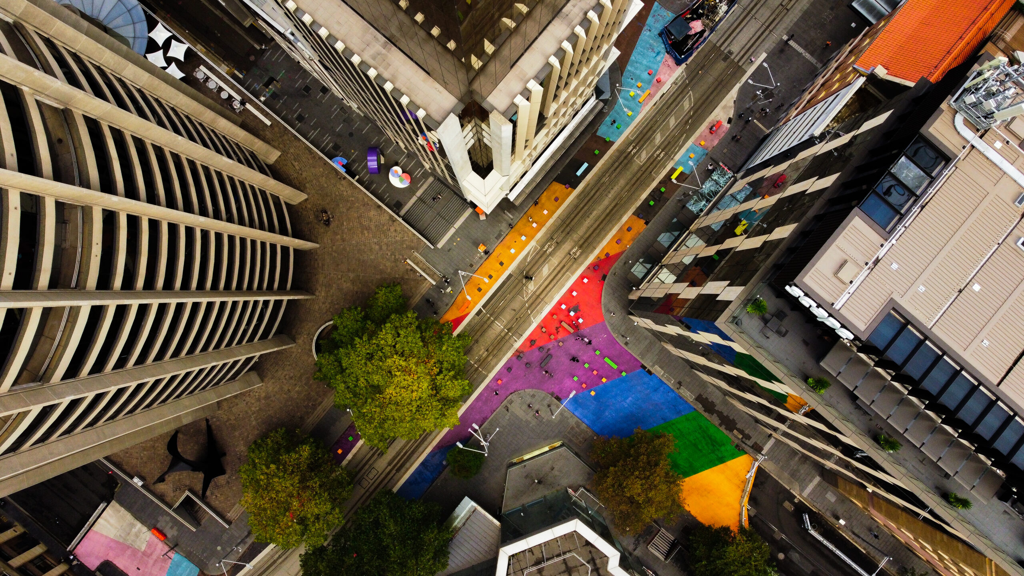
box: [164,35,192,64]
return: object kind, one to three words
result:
umbrella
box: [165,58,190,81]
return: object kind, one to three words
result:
umbrella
